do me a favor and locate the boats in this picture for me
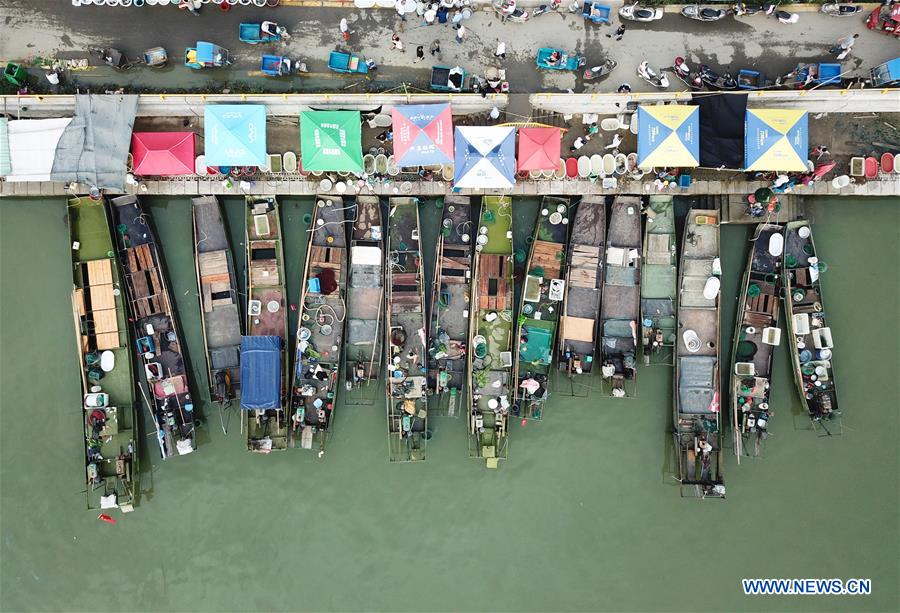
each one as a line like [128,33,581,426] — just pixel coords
[427,197,471,417]
[240,196,289,450]
[509,197,570,420]
[386,197,428,462]
[599,196,642,397]
[192,196,245,434]
[345,197,386,405]
[290,196,348,451]
[109,196,200,461]
[728,223,785,458]
[640,196,677,366]
[559,196,606,397]
[468,197,514,468]
[672,208,726,498]
[67,197,140,508]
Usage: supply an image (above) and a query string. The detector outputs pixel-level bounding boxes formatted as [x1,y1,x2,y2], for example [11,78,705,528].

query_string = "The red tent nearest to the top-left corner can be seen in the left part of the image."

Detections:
[133,133,211,184]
